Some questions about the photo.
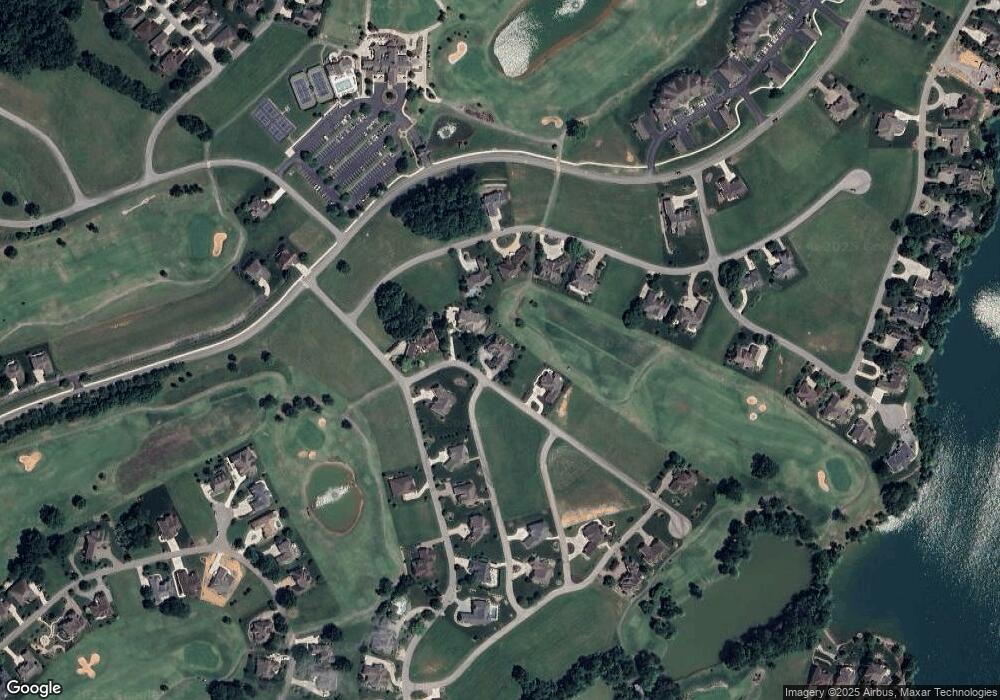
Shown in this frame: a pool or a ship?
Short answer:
pool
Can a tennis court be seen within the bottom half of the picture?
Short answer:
No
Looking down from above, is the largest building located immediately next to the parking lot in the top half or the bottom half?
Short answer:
top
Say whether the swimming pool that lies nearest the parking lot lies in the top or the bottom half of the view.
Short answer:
top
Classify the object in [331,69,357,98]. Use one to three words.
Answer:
swimming pool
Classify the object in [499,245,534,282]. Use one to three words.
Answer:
house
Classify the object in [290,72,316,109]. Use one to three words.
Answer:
tennis court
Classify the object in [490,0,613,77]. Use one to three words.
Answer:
pond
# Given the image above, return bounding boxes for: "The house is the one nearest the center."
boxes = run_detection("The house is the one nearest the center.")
[482,334,519,371]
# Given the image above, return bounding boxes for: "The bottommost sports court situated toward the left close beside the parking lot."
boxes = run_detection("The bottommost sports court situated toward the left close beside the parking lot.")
[249,97,296,144]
